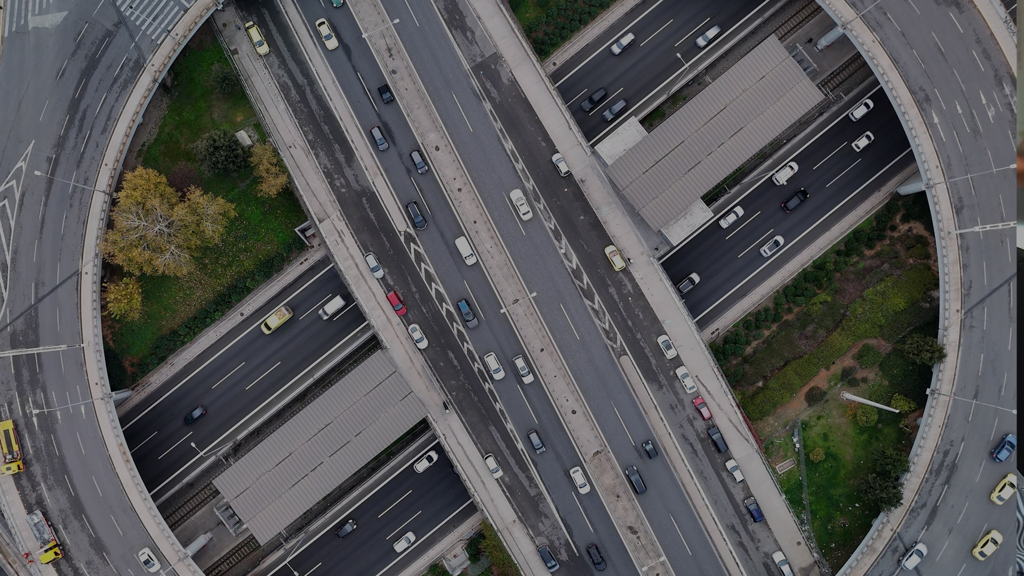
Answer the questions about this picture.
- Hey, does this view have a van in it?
Yes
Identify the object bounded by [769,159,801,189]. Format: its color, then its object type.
white car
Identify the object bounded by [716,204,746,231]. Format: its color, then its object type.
white car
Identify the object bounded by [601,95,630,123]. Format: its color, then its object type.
gray car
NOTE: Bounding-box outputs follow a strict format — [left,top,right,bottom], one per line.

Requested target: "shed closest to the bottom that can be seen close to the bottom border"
[443,545,471,576]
